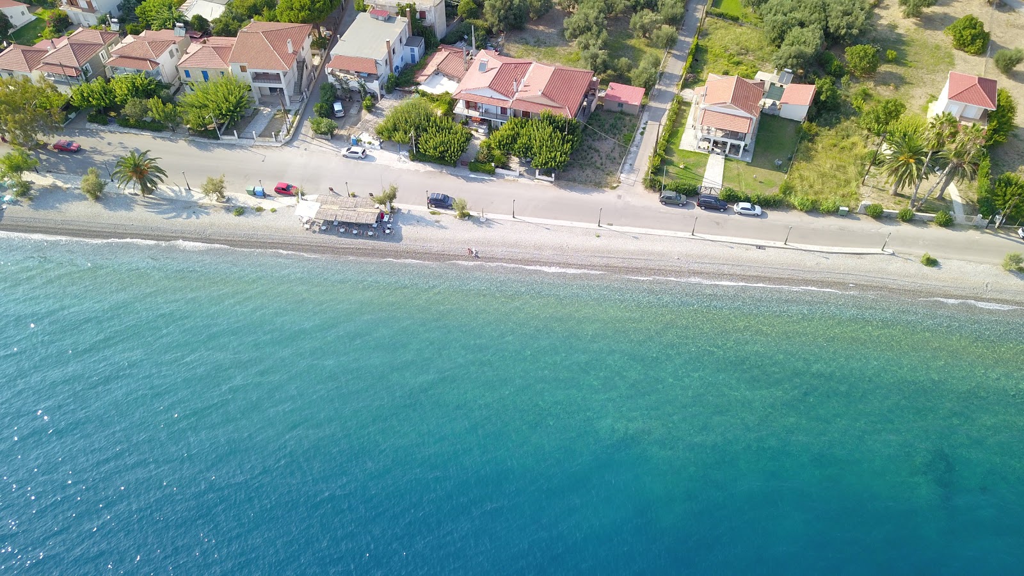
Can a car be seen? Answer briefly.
Yes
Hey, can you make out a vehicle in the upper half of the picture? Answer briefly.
Yes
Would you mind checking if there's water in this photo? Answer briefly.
Yes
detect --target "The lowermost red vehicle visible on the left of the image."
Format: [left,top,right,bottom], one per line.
[273,181,295,195]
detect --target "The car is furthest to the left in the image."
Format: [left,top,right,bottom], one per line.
[54,138,81,152]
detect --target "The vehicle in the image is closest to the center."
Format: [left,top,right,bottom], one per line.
[428,192,455,209]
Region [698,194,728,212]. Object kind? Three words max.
car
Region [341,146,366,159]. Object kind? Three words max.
vehicle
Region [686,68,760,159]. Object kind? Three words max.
house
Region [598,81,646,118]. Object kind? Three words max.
shed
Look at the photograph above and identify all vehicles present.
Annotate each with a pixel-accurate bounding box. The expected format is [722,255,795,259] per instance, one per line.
[428,192,455,209]
[658,190,686,207]
[698,194,728,212]
[54,138,81,152]
[273,181,295,195]
[733,201,763,216]
[341,146,366,159]
[1016,229,1024,239]
[332,100,344,114]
